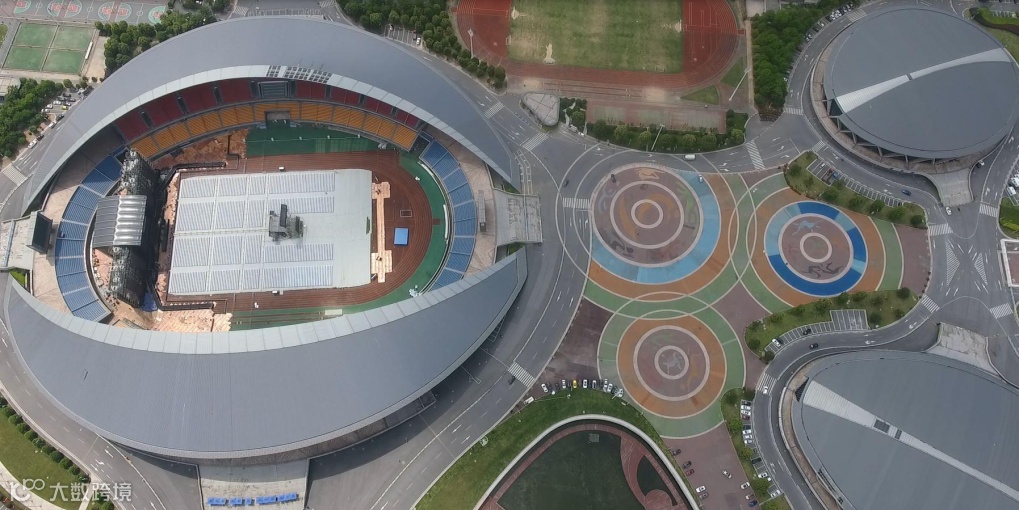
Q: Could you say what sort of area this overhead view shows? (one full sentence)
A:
This looks like a sports ground.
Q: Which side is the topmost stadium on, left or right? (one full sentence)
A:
The topmost stadium is on the right side of the image.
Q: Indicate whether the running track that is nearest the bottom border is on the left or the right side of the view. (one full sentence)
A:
The running track that is nearest the bottom border sits on the left side.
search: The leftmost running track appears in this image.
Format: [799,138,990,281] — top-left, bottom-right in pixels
[84,123,449,330]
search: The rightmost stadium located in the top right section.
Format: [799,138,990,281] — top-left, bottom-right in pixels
[807,7,1019,209]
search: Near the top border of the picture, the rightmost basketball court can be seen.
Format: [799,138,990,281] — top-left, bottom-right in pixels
[113,0,164,25]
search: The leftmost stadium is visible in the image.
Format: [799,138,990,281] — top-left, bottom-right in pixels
[0,15,543,510]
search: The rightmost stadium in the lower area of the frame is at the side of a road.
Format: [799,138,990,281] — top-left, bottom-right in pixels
[777,323,1019,510]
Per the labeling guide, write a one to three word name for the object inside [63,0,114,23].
basketball court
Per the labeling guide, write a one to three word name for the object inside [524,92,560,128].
building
